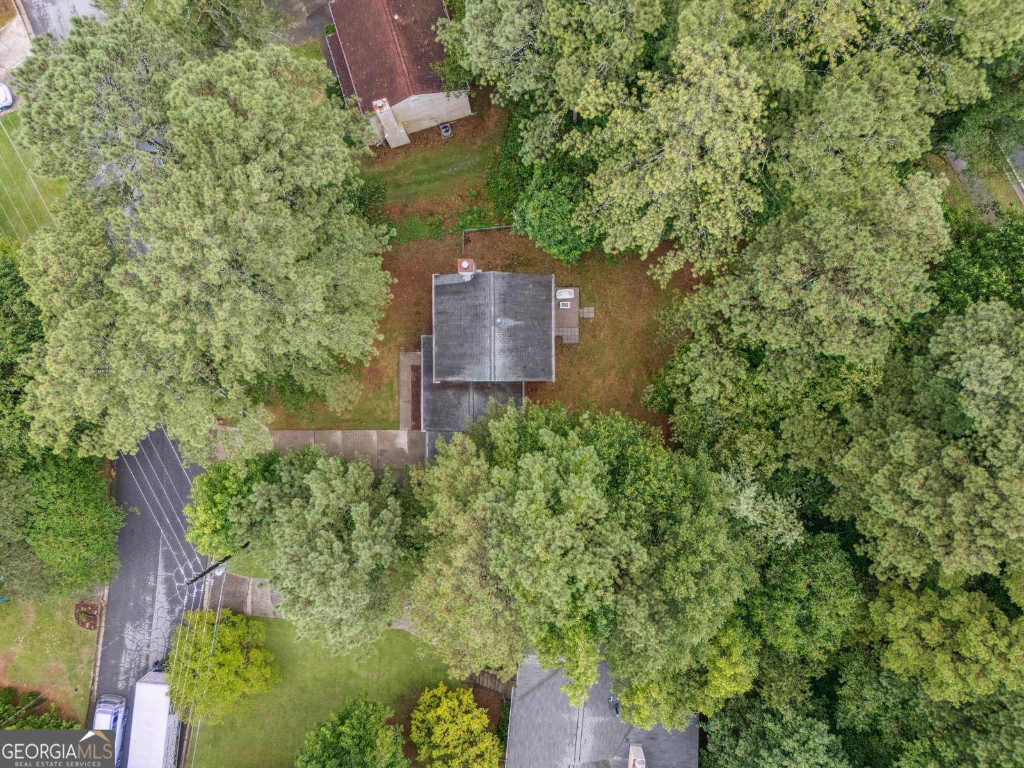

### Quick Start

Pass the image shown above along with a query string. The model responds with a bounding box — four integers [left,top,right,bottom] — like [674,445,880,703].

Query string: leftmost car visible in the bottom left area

[89,696,128,764]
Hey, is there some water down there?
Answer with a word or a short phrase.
No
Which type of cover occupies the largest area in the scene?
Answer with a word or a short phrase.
trees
